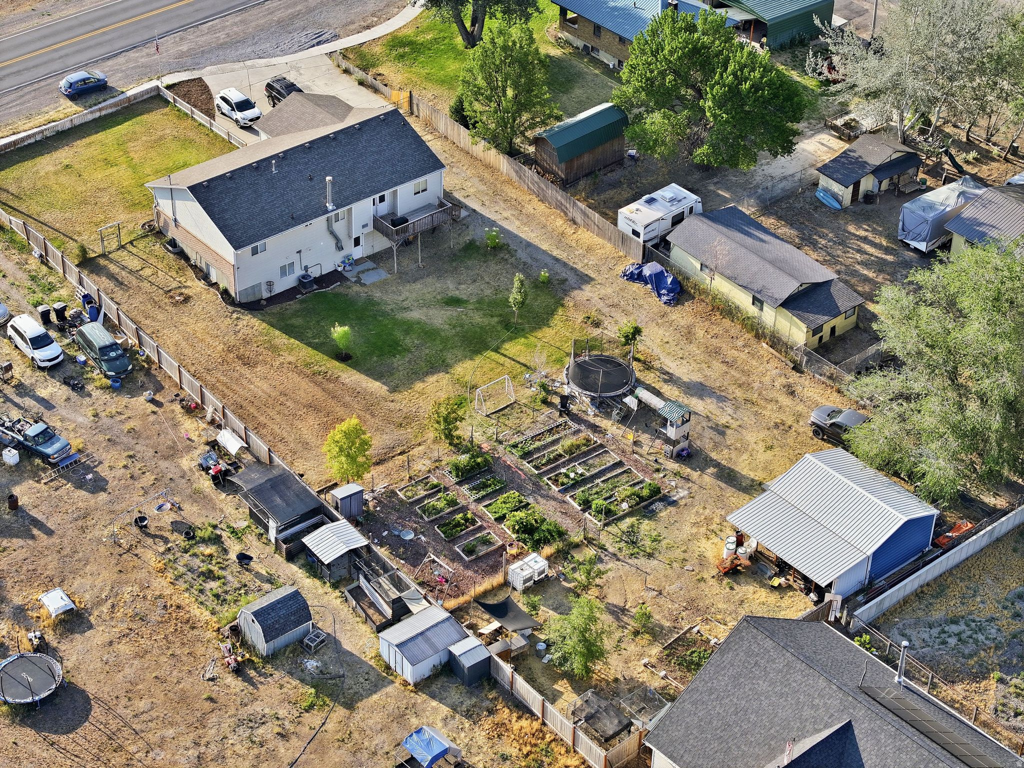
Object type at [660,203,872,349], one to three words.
shed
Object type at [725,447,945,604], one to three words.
building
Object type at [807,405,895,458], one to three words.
truck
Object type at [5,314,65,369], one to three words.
car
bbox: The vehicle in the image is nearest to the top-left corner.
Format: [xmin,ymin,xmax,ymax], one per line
[56,69,111,101]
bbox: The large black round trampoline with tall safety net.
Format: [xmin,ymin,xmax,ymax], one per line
[565,337,638,407]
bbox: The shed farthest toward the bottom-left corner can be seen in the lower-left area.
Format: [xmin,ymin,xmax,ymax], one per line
[238,586,315,656]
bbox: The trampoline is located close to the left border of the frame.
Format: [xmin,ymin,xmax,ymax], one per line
[0,637,67,715]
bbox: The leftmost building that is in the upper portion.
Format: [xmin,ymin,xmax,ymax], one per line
[151,91,466,304]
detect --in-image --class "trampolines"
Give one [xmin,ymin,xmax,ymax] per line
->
[565,337,638,407]
[0,637,67,715]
